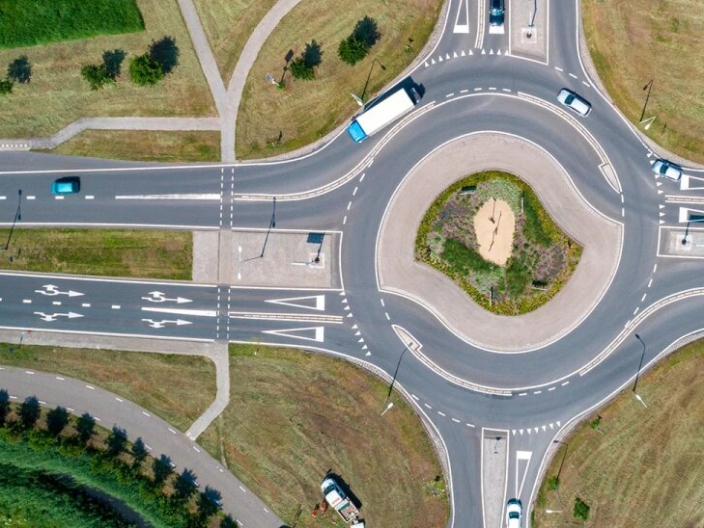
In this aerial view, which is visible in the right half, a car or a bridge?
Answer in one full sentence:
What appears in the right half is a car.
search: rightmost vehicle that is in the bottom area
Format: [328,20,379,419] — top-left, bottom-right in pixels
[507,502,521,528]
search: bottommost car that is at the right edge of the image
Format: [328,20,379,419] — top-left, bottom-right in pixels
[650,161,682,183]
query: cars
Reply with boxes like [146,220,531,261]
[556,91,590,116]
[507,502,521,528]
[488,0,504,25]
[650,161,682,183]
[52,180,80,194]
